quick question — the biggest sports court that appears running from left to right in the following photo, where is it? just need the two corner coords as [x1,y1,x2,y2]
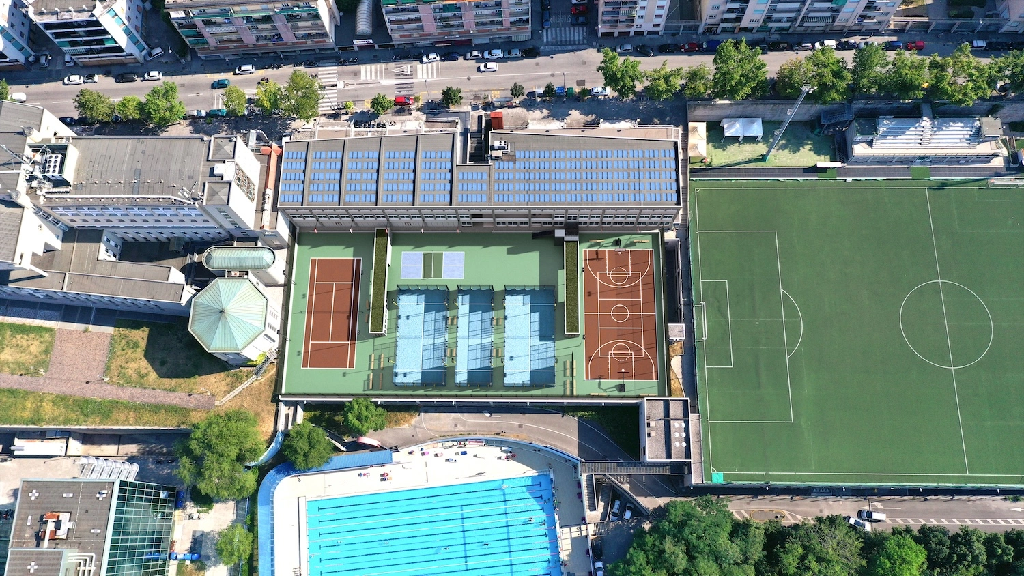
[401,250,465,280]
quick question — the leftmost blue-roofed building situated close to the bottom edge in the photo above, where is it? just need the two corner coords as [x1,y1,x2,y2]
[258,450,394,576]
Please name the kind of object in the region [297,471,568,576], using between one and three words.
swimming pool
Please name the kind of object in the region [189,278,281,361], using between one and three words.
building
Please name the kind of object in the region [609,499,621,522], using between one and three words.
vehicle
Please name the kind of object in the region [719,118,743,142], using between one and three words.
tent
